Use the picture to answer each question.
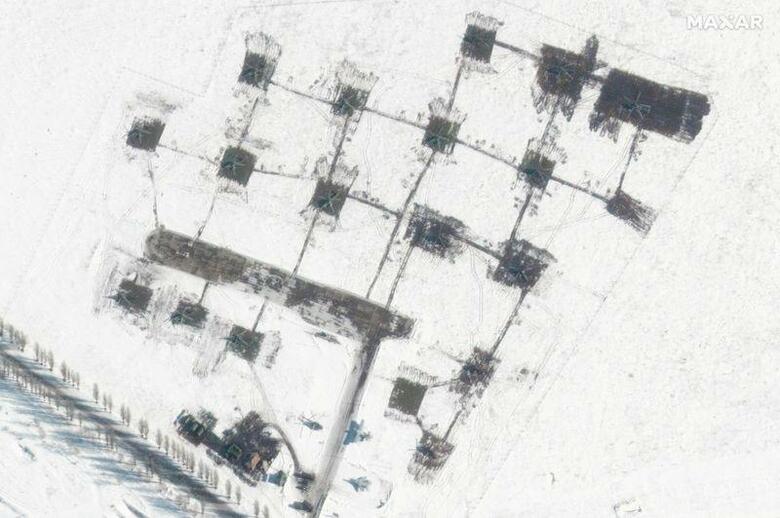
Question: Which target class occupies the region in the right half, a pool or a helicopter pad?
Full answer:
It is a helicopter pad that can be seen in the right half.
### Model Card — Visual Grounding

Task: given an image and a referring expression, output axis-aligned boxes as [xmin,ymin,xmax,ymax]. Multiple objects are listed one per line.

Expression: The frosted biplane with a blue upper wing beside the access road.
[344,421,363,442]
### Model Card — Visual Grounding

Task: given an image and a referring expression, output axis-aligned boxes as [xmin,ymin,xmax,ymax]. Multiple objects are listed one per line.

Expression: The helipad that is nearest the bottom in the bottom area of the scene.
[405,431,456,483]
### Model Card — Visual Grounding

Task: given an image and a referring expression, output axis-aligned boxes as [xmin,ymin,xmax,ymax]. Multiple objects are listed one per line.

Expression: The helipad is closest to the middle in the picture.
[403,200,471,265]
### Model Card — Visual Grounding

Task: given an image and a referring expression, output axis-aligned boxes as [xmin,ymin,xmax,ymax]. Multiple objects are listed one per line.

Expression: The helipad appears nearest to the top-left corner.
[126,116,167,152]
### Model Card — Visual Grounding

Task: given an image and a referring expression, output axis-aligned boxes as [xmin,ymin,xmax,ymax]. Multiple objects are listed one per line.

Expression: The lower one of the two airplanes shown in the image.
[349,477,372,490]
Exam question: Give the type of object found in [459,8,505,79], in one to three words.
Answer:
helipad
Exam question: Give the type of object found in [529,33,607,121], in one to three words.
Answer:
helipad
